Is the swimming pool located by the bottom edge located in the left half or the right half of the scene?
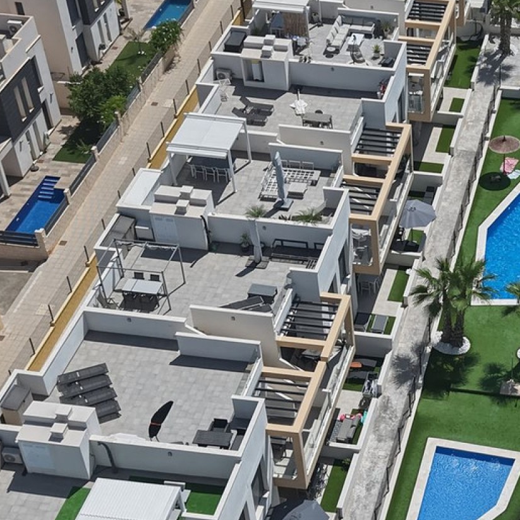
right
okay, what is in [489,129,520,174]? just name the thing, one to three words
umbrella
